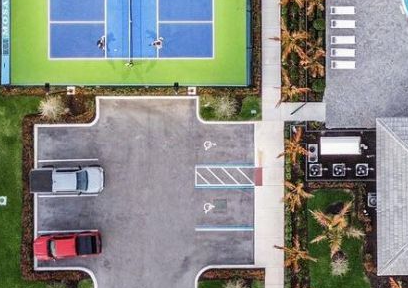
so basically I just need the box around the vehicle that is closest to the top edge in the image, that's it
[30,166,105,197]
